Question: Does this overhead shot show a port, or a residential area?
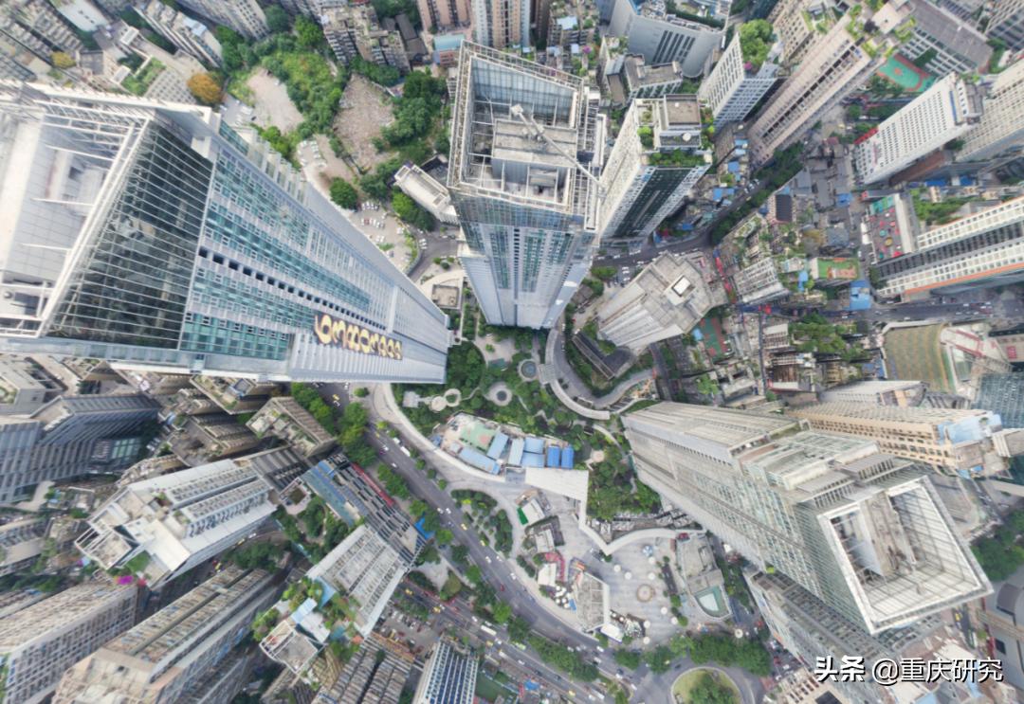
residential area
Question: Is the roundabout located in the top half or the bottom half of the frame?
bottom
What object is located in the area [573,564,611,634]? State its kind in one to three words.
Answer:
building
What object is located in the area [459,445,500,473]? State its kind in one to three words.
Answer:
building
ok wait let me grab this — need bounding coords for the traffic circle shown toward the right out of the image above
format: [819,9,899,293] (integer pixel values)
[648,639,769,704]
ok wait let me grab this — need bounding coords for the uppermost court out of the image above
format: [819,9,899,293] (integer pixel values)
[877,51,940,93]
